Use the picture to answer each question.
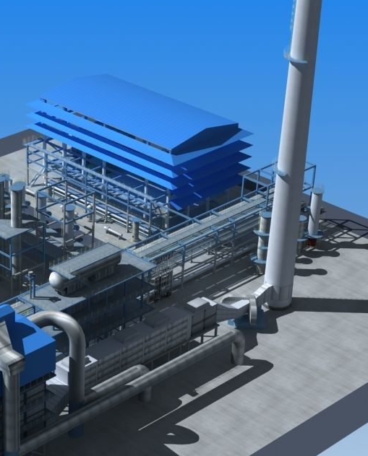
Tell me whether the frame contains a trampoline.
No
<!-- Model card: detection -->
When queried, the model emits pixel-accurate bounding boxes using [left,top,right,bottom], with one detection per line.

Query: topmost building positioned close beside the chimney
[26,73,252,230]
